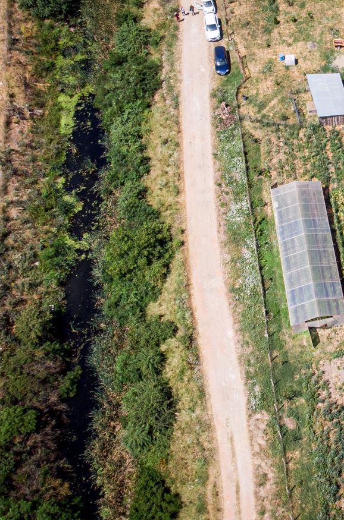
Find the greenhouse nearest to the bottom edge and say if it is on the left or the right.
right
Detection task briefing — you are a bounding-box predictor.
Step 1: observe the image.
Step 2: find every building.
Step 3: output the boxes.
[306,73,344,125]
[269,180,344,345]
